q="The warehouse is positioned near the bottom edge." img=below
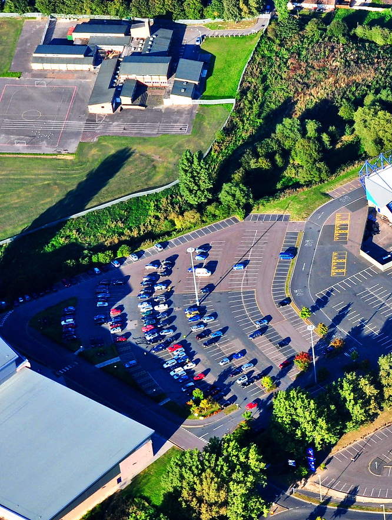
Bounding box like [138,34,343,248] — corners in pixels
[0,366,157,520]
